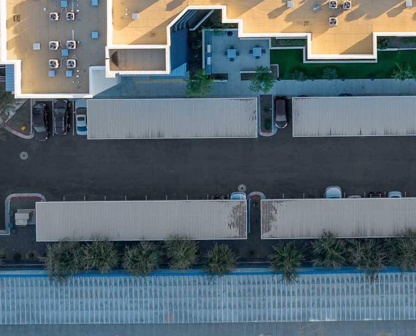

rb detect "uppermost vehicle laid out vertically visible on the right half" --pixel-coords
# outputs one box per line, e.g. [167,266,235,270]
[273,96,289,128]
